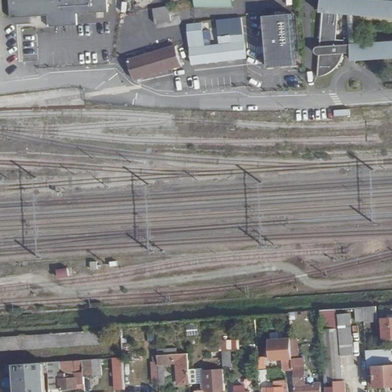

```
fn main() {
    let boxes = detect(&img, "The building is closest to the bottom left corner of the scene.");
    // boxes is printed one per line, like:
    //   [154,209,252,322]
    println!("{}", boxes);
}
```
[10,362,43,392]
